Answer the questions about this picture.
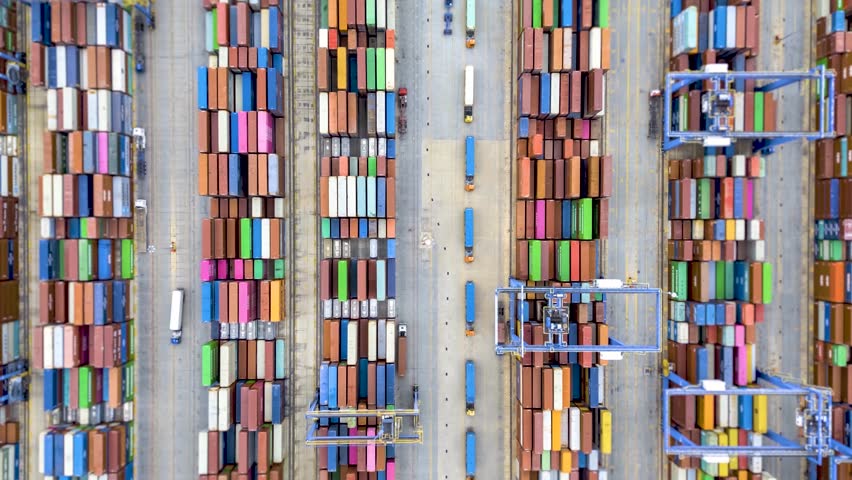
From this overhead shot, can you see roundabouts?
No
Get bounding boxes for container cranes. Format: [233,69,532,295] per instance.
[661,58,843,162]
[0,0,153,30]
[0,350,32,404]
[300,387,421,445]
[660,359,840,473]
[493,268,666,366]
[0,43,30,97]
